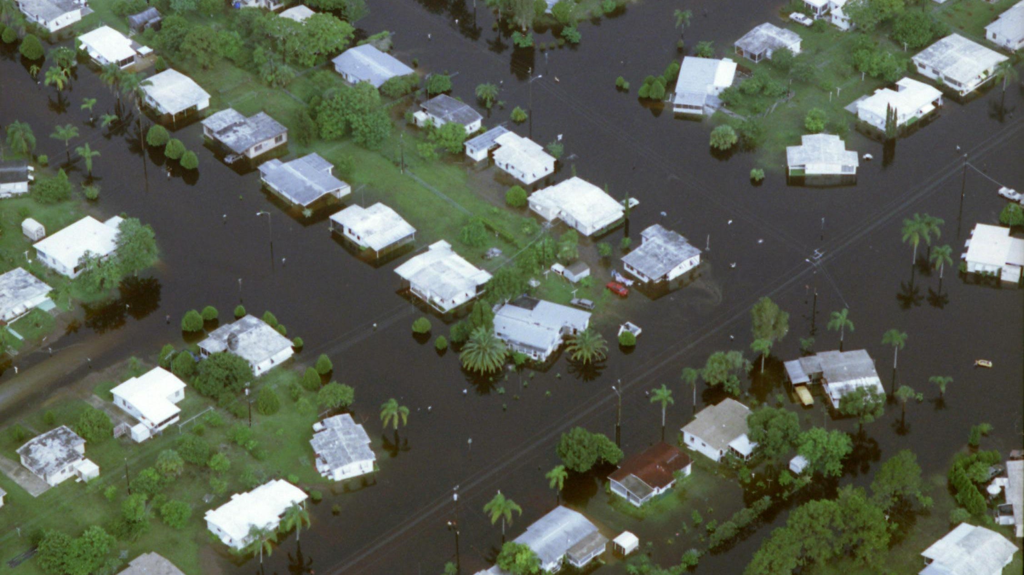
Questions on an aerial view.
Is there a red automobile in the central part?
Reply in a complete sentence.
Yes, a red automobile shows up in the central part.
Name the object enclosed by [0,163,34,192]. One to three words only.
house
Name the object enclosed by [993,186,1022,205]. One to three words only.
vehicle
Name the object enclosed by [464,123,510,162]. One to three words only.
shed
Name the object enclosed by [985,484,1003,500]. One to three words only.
umbrella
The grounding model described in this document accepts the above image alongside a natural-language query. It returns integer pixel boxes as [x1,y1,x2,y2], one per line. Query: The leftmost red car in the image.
[602,280,633,301]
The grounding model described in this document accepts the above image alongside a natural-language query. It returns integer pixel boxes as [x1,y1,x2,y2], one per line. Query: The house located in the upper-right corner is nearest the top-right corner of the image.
[986,2,1024,51]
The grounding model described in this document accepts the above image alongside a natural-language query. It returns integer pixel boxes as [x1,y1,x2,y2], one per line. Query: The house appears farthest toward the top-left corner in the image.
[24,0,81,29]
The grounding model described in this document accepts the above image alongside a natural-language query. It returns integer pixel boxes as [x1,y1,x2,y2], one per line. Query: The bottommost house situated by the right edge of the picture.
[915,519,1015,575]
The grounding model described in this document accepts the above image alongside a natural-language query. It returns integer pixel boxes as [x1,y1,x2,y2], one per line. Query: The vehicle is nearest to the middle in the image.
[564,296,600,313]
